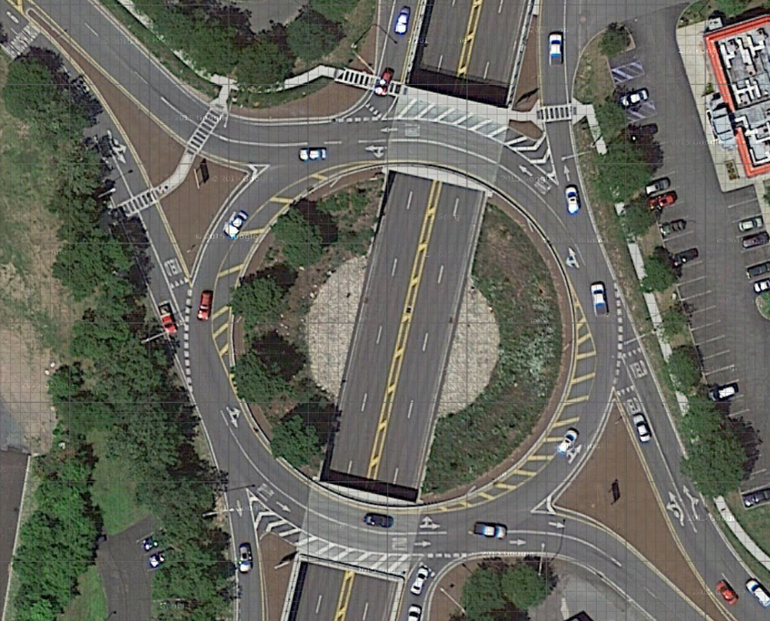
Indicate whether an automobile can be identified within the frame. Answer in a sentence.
Yes, this view includes an automobile.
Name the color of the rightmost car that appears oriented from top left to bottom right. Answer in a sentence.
The rightmost car that appears oriented from top left to bottom right looks white in the image.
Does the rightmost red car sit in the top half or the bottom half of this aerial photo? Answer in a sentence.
The rightmost red car sits in the bottom half of the picture.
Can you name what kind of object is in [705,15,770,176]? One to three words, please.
building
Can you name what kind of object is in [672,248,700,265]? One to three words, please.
car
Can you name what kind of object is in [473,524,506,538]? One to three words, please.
vehicle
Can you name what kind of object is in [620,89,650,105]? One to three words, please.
car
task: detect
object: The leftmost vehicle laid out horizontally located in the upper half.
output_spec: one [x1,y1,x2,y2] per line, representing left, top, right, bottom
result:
[299,147,326,160]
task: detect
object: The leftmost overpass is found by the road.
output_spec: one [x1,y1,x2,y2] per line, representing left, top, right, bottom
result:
[296,479,422,580]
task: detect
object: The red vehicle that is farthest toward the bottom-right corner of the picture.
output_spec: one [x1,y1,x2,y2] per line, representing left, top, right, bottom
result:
[716,579,738,606]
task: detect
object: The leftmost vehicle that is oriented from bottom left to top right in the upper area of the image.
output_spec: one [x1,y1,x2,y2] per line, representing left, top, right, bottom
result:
[225,208,249,237]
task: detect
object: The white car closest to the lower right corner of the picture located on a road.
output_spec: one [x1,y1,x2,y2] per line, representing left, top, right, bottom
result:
[747,577,770,607]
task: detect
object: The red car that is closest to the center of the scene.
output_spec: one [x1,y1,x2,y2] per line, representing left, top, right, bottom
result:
[198,290,212,320]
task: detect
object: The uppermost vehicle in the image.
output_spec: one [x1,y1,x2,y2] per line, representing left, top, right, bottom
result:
[394,6,409,35]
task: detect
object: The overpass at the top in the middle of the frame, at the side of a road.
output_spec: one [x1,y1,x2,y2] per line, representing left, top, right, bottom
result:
[386,83,513,192]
